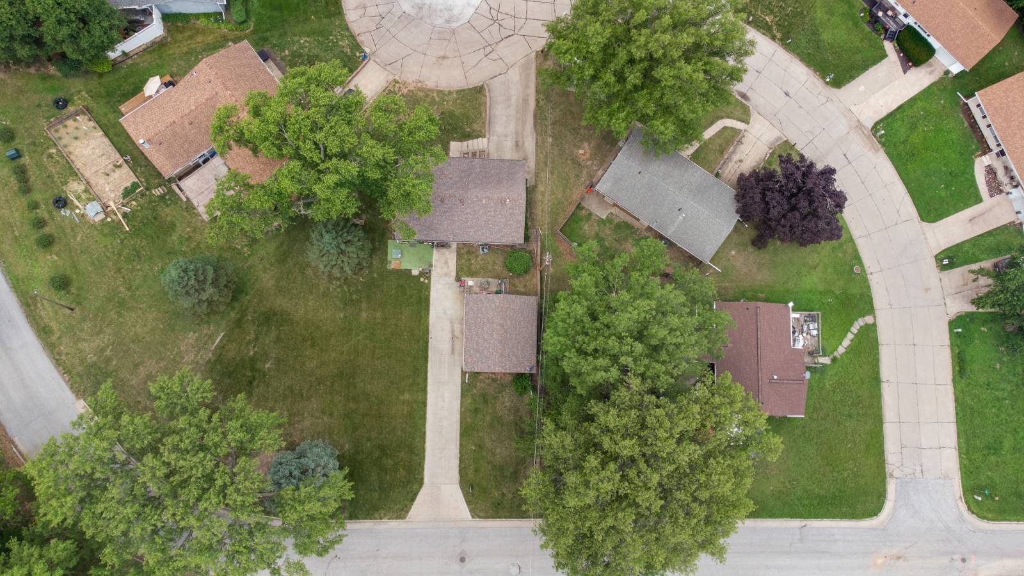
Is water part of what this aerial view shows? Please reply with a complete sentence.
No, there's no water in this view.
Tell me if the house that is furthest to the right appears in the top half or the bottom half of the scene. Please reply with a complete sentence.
You can find the house that is furthest to the right in the top half.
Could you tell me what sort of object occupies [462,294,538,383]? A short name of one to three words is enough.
building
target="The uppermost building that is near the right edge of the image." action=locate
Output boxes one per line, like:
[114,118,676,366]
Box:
[872,0,1023,76]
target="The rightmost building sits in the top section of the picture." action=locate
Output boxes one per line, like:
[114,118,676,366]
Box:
[957,70,1024,234]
